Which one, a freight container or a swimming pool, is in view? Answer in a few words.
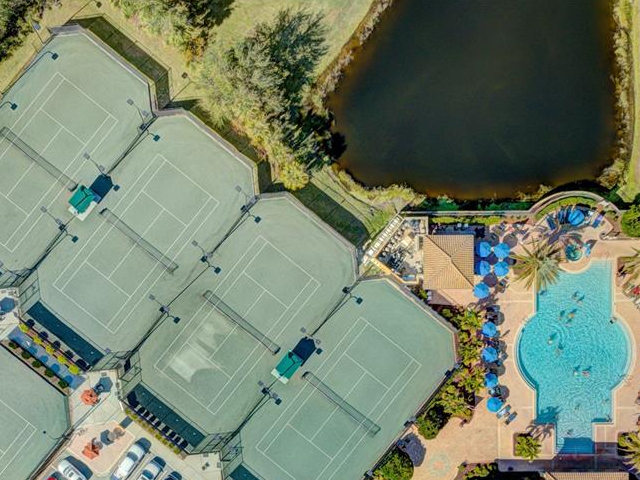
swimming pool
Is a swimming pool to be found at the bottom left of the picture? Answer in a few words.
No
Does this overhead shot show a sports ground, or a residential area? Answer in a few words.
sports ground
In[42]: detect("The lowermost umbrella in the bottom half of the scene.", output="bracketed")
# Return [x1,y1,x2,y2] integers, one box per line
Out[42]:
[83,442,101,459]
